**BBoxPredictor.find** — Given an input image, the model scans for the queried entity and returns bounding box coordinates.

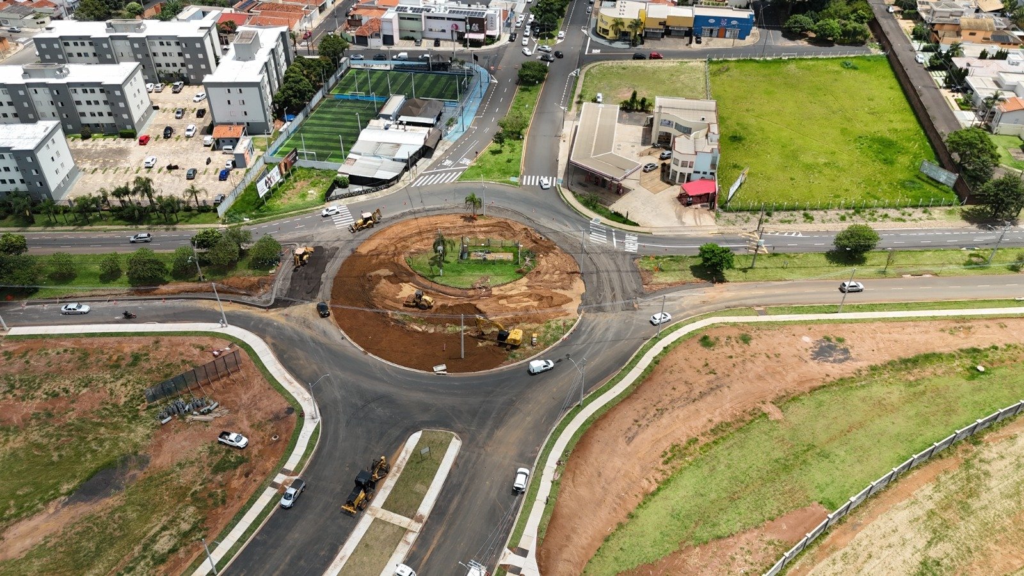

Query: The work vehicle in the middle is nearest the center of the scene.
[473,318,521,349]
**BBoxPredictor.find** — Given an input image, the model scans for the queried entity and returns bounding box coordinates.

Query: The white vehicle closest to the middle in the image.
[528,358,554,374]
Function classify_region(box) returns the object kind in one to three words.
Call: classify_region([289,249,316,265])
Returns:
work vehicle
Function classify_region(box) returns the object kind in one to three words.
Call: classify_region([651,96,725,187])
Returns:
building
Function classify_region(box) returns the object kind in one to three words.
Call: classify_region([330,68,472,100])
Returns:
soccer field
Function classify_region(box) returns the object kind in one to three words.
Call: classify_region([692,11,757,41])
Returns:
building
